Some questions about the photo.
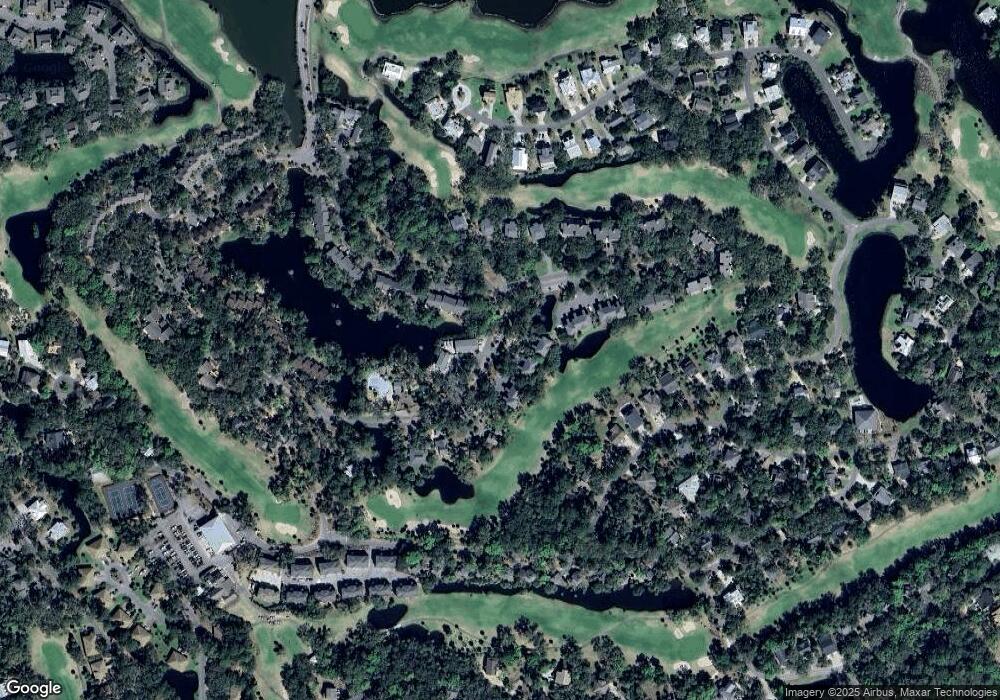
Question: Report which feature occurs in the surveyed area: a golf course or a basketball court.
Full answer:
There is a golf course in the scene.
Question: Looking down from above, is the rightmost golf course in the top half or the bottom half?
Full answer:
You can find the rightmost golf course in the top half.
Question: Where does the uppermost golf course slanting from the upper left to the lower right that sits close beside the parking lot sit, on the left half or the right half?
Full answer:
The uppermost golf course slanting from the upper left to the lower right that sits close beside the parking lot sits on the left side.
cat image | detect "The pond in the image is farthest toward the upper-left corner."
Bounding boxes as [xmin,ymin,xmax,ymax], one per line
[1,53,75,82]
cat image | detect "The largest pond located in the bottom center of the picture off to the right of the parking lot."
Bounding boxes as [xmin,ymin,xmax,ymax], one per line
[427,582,696,611]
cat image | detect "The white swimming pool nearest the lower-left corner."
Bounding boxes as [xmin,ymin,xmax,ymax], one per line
[366,370,396,402]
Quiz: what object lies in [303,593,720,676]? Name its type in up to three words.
golf course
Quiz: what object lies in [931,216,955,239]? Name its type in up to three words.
house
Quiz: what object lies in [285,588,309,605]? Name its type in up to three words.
building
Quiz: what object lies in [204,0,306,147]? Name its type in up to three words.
pond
